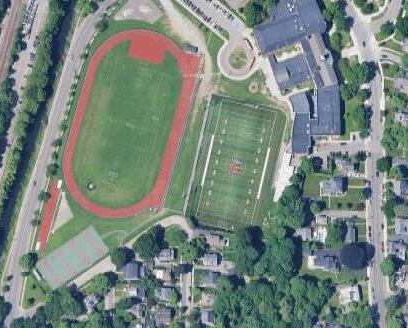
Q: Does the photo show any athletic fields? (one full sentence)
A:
Yes, an athletic field can be made out from above.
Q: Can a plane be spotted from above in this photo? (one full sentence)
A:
No, there appears to be no plane in this shot.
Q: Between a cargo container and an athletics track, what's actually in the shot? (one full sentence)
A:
There is an athletics track in the scene.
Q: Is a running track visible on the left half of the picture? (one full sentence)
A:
Yes, a running track is visible on the left half of the picture.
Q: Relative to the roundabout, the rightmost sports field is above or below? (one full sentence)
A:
From this view, the rightmost sports field can be seen below the roundabout.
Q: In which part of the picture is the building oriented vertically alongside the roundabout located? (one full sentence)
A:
Look in the top right portion of the view to spot the building oriented vertically alongside the roundabout.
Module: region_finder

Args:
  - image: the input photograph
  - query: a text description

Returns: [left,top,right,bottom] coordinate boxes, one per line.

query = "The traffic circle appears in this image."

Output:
[218,38,258,78]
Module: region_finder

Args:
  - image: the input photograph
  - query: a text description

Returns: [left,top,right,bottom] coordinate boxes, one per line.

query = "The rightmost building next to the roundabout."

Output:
[255,0,343,153]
